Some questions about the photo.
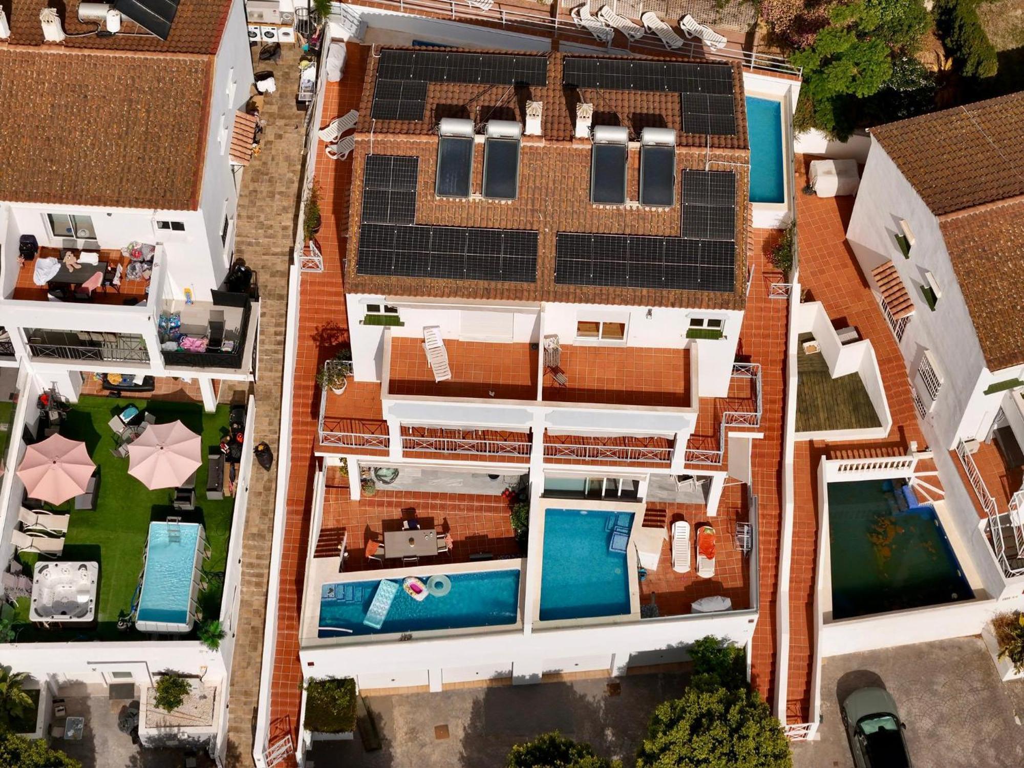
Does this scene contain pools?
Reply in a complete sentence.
Yes, the photo shows a pool.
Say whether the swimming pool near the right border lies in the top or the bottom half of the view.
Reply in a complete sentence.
Seen from above, the swimming pool near the right border lies in the bottom half of the view.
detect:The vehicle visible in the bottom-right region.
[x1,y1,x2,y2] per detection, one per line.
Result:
[843,682,918,768]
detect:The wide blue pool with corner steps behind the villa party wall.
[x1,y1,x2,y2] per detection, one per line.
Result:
[539,498,646,622]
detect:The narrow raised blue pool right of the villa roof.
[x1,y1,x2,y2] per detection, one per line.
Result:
[750,95,791,216]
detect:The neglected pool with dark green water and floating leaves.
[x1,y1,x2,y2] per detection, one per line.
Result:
[824,486,1005,661]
